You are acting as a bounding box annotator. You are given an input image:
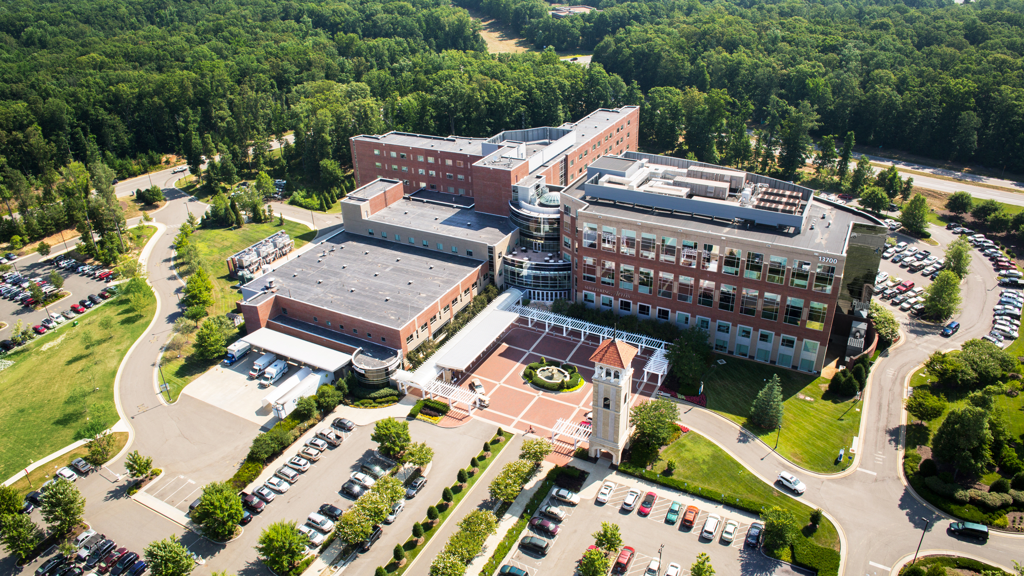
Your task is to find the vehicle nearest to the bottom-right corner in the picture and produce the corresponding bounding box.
[948,519,990,543]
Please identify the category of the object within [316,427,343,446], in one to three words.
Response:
vehicle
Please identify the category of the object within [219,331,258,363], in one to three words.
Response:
truck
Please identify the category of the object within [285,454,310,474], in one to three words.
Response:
car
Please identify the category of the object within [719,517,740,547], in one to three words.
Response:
car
